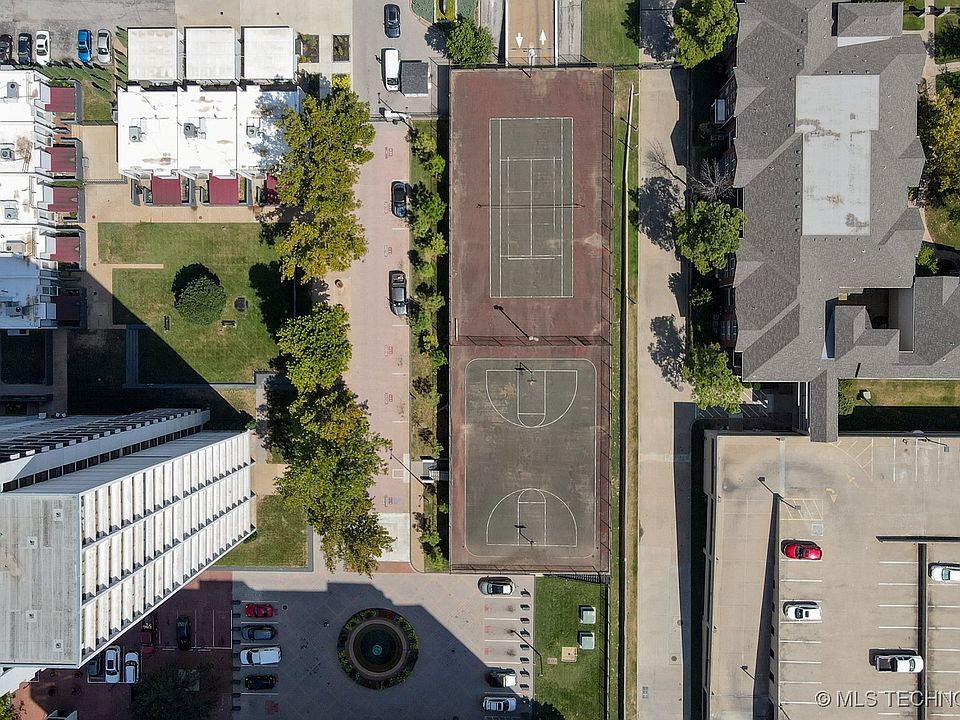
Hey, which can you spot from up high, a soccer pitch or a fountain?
fountain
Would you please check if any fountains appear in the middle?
No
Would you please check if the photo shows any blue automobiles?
Yes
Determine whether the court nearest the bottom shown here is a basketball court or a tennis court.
basketball court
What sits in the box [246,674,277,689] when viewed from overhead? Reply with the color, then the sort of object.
black car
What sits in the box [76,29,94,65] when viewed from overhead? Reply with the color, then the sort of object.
blue car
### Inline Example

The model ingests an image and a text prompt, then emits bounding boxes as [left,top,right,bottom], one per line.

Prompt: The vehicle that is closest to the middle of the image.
[390,274,407,315]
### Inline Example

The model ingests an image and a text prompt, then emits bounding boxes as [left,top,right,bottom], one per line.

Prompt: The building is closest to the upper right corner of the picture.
[711,0,960,441]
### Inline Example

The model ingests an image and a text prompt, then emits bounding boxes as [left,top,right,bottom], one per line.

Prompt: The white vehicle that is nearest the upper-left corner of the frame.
[34,31,52,67]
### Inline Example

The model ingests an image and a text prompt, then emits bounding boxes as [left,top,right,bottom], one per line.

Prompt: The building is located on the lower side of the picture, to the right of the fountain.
[697,428,960,720]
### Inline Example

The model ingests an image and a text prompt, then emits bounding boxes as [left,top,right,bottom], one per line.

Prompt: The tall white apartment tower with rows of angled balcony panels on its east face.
[0,408,258,703]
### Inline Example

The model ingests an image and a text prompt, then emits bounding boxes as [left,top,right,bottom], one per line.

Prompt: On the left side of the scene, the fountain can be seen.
[338,608,418,690]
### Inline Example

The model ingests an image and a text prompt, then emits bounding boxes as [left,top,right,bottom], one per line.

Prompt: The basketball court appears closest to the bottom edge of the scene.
[451,346,610,572]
